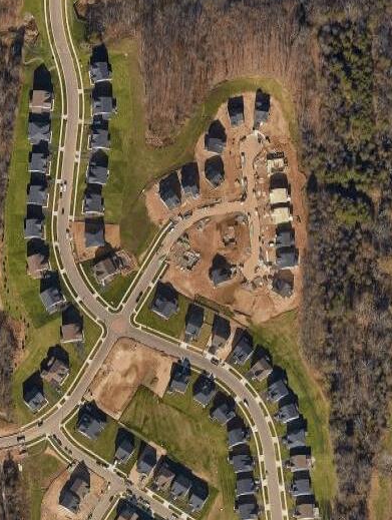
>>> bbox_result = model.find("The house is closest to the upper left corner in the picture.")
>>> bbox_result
[28,87,52,108]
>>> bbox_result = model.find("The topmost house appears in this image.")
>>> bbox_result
[90,58,110,80]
